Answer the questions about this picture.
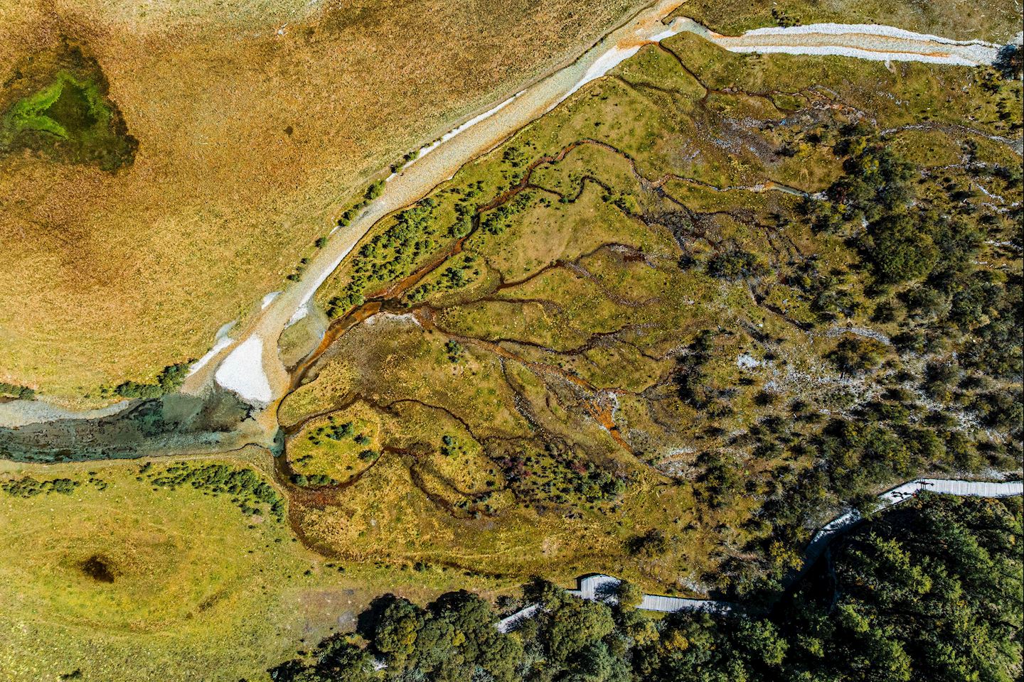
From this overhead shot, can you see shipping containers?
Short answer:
No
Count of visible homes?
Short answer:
0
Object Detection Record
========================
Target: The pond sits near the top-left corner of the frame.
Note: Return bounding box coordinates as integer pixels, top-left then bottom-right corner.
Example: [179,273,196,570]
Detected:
[0,40,145,179]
